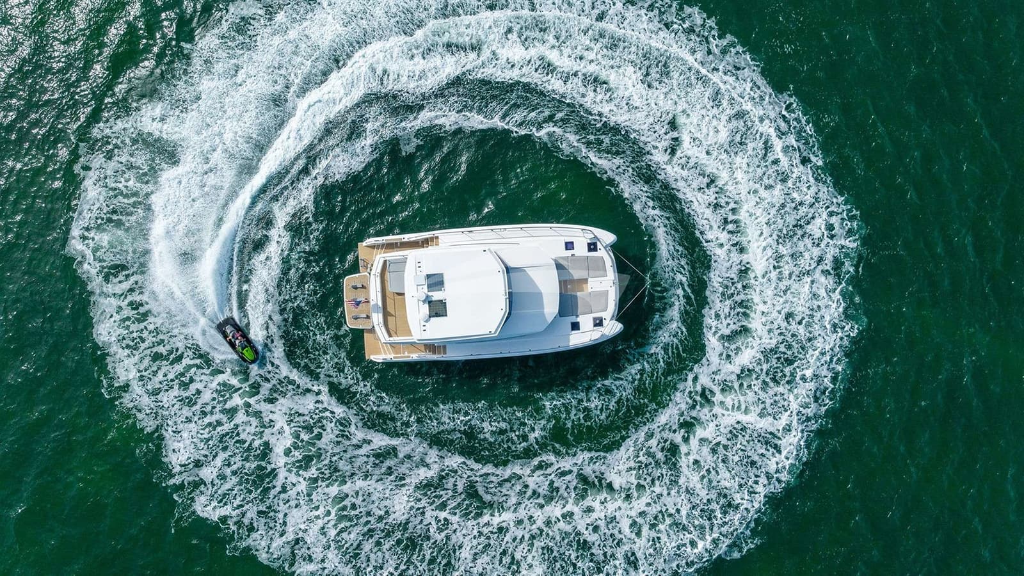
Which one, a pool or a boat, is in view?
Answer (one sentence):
The one in the frame is a boat.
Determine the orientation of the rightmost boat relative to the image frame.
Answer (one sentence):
The rightmost boat is oriented horizontally.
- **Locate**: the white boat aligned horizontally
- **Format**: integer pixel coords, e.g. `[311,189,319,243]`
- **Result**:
[344,223,623,363]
